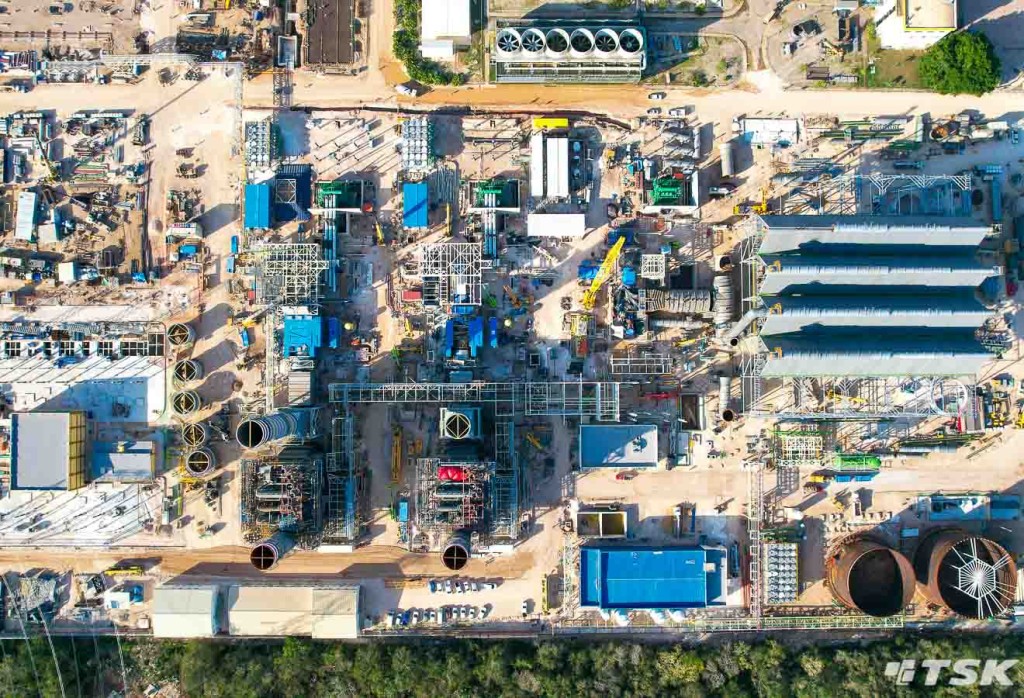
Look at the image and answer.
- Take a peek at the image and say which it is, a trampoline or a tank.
tank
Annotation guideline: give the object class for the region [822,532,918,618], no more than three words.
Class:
storage tank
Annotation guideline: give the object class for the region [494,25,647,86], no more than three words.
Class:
cooling tower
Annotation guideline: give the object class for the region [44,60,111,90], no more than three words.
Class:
shed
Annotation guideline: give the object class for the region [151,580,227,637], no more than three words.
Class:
building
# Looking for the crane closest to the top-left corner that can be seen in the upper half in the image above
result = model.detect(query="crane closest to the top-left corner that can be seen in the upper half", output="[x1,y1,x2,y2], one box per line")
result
[0,108,66,185]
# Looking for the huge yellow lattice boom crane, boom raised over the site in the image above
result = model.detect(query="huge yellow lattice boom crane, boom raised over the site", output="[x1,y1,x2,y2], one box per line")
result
[565,240,622,353]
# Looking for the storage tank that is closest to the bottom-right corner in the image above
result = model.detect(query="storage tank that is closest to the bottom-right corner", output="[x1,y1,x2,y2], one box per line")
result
[914,527,1020,621]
